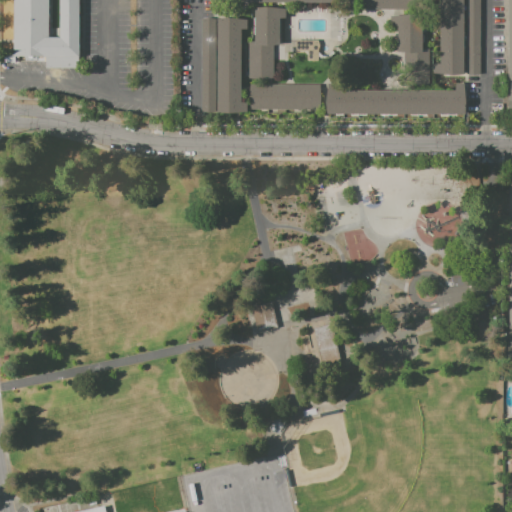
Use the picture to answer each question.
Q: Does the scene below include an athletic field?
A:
Yes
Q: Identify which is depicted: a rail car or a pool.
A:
pool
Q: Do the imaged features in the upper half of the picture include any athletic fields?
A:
No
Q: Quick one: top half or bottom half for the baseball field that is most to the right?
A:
bottom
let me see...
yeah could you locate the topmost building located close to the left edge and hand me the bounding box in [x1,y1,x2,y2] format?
[14,0,80,67]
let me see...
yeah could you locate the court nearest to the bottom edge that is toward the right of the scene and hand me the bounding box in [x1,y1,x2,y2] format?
[344,230,378,263]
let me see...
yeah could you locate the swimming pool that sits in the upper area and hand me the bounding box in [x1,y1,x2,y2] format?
[292,12,348,55]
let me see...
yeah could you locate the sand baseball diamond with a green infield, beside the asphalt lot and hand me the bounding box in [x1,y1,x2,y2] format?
[284,412,351,486]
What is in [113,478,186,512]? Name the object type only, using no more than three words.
sports field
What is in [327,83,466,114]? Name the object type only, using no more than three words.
building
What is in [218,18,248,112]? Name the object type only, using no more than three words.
building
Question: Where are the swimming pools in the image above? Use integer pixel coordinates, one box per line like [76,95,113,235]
[292,12,348,55]
[506,382,512,418]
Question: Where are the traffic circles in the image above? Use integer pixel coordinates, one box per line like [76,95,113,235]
[404,266,470,313]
